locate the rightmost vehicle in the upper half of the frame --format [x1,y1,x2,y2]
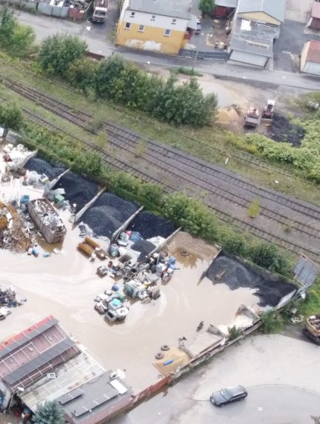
[260,97,277,121]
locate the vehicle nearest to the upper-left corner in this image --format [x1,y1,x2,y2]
[92,0,107,21]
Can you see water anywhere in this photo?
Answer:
Yes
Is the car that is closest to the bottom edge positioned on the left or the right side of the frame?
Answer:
right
